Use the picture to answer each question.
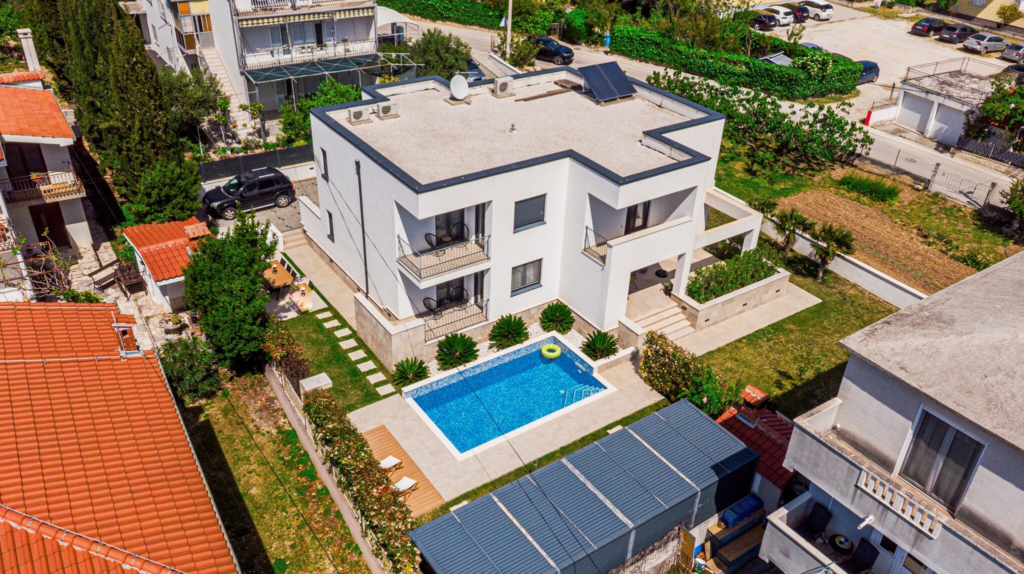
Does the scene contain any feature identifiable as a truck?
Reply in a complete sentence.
No, there isn't any truck down there.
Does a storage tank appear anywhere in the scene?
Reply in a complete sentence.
No, this view has no storage tank in it.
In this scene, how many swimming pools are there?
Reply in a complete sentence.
The picture shows 1 swimming pool.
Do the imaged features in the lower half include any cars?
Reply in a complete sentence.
No, the scene shows no car in the lower half.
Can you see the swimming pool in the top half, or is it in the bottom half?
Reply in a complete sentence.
The swimming pool sits in the bottom half of the picture.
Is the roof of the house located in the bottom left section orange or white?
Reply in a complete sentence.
In this view, the roof of the house located in the bottom left section is orange.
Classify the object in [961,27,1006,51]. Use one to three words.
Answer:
car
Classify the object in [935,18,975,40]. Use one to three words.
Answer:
car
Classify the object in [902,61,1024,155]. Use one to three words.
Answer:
building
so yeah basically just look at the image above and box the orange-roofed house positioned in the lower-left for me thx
[0,298,251,574]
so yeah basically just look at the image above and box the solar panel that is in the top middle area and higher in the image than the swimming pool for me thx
[579,64,631,107]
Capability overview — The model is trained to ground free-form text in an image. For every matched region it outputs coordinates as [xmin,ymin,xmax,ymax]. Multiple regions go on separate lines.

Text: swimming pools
[401,330,641,462]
